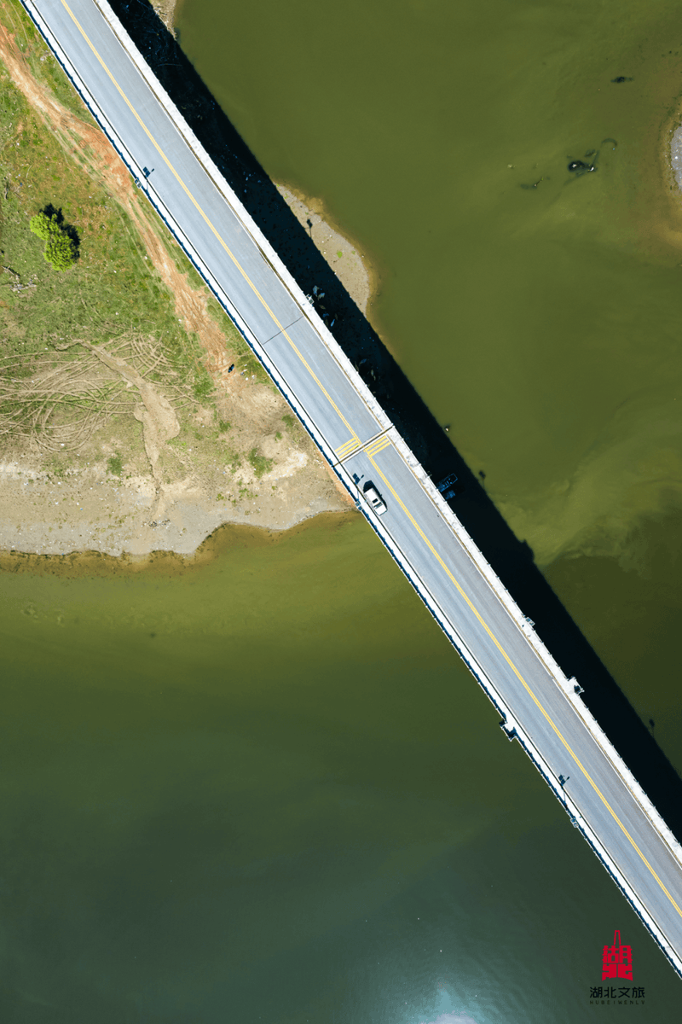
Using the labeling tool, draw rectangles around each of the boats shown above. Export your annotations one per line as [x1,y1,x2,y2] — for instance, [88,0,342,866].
[442,489,456,502]
[437,475,458,493]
